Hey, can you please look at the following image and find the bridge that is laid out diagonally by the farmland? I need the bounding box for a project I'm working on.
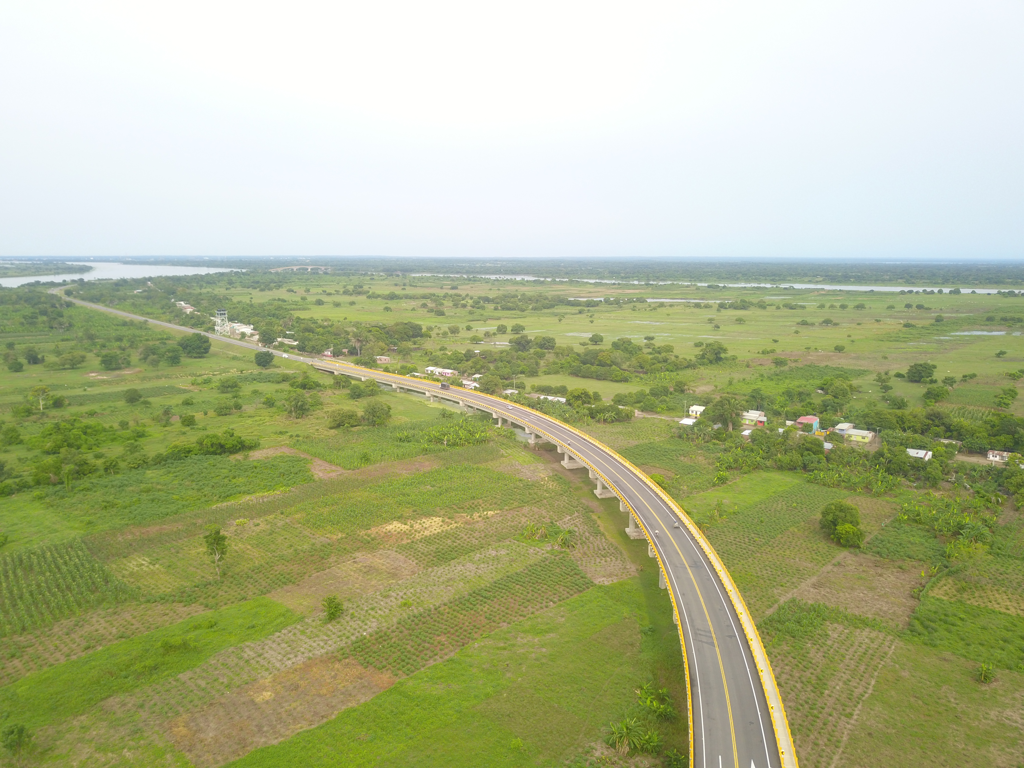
[300,359,807,768]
